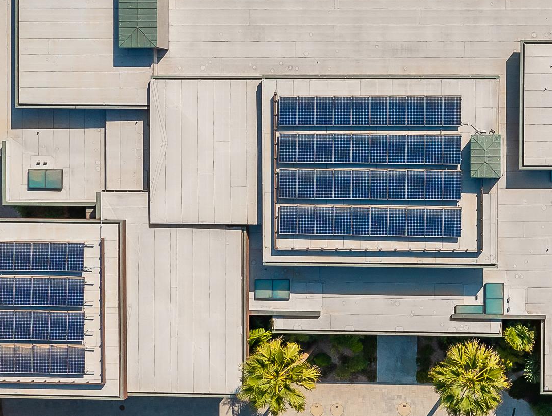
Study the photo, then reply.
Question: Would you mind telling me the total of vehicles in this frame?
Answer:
0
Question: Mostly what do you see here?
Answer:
buildings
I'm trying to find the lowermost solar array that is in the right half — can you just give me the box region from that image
[279,206,462,236]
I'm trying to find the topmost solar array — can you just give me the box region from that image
[279,96,461,125]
